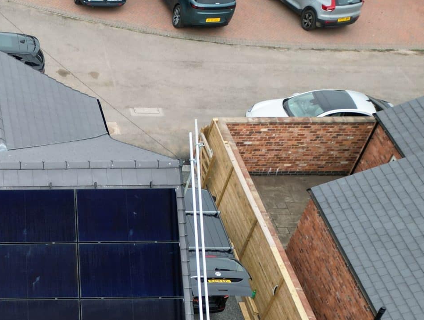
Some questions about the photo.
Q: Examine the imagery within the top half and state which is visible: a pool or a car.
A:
car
